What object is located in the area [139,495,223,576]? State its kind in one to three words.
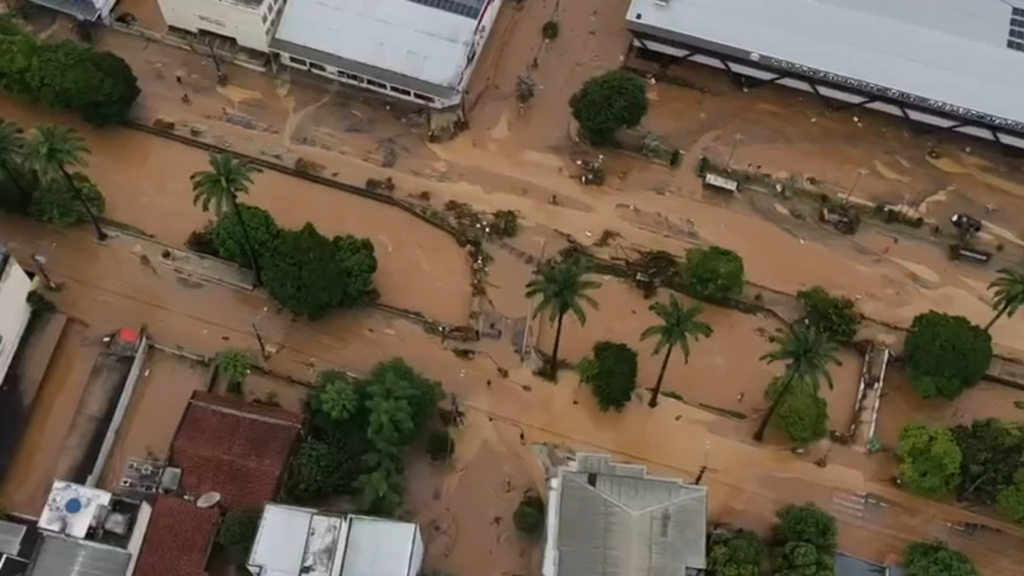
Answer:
house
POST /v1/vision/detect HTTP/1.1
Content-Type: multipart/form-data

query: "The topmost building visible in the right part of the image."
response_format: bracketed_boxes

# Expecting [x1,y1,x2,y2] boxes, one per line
[625,0,1024,169]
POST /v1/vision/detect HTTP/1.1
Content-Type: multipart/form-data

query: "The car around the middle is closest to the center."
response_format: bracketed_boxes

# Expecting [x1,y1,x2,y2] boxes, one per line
[445,325,480,342]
